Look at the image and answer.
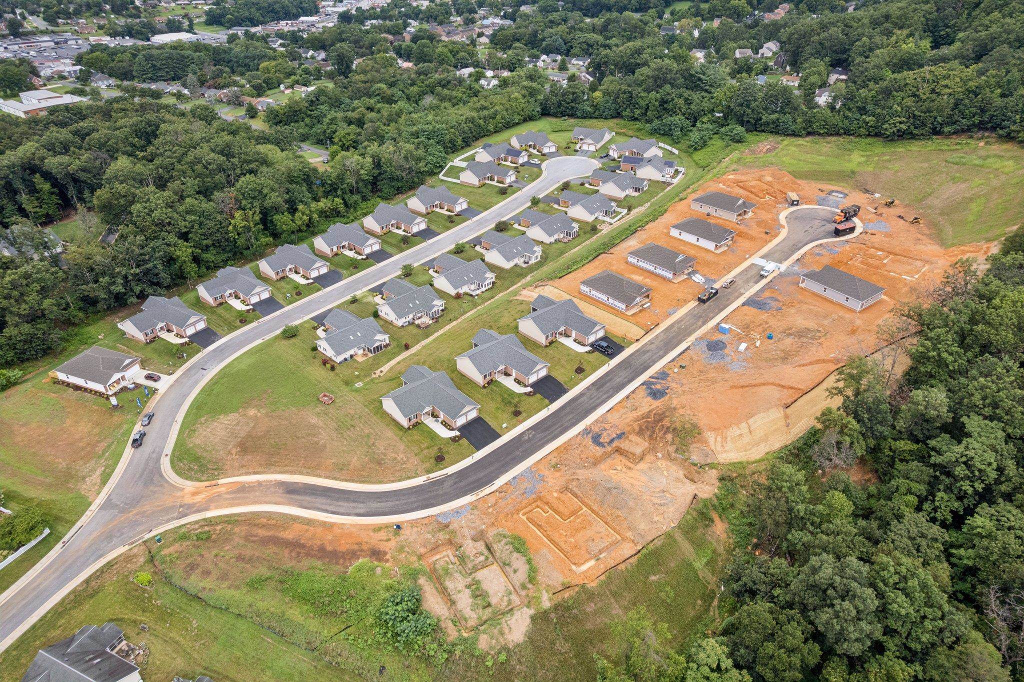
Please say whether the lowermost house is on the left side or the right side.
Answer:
left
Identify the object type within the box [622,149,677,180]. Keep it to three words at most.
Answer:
house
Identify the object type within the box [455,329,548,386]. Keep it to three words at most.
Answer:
house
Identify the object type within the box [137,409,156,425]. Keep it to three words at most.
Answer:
car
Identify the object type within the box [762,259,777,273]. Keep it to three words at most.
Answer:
vehicle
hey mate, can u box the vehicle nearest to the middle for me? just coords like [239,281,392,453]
[593,339,616,352]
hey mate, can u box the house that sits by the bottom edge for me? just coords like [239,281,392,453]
[30,623,147,682]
